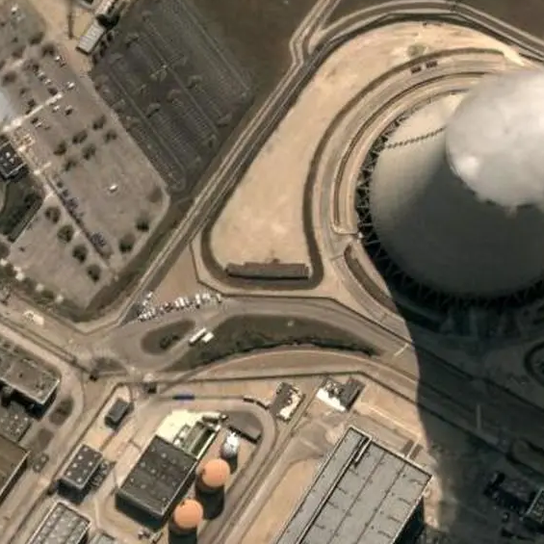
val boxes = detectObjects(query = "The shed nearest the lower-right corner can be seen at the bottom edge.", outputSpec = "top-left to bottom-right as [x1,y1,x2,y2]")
[526,488,544,526]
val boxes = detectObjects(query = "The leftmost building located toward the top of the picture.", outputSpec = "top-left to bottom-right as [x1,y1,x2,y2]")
[0,142,24,178]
